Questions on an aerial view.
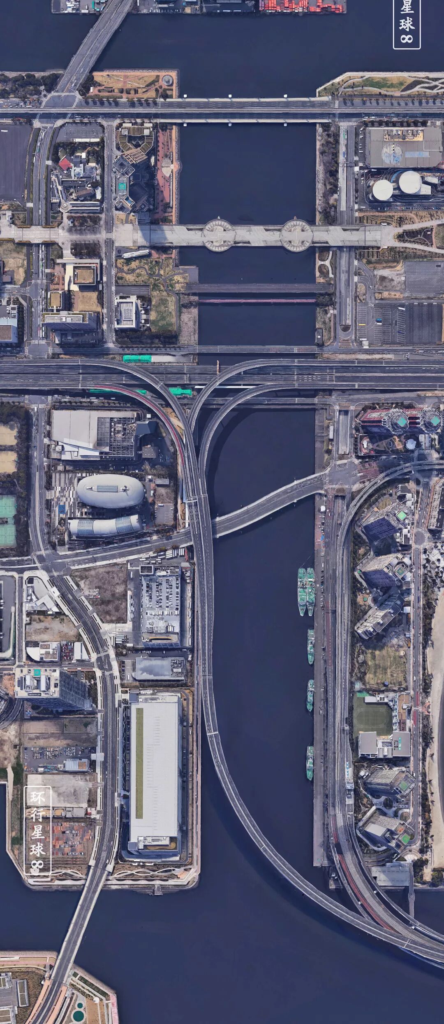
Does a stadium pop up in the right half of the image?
No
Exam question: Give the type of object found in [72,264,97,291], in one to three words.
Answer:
building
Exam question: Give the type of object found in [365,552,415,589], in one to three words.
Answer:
building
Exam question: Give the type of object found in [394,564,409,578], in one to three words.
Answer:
helipad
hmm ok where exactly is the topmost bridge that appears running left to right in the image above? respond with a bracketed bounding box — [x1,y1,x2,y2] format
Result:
[164,98,332,122]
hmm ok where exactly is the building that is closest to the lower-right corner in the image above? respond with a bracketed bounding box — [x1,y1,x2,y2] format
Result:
[370,863,410,886]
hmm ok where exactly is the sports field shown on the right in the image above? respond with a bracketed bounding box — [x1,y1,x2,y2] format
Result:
[353,693,392,737]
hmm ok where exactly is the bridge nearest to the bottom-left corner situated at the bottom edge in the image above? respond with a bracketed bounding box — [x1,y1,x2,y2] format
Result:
[50,862,109,982]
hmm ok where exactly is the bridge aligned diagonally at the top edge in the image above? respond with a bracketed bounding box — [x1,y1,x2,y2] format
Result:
[59,0,132,97]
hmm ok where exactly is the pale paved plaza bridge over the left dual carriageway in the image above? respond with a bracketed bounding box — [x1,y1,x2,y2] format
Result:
[14,223,58,243]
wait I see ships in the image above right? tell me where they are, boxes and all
[306,745,313,780]
[306,568,315,616]
[298,568,306,616]
[308,629,314,664]
[307,679,314,712]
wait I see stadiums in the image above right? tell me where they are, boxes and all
[77,475,146,509]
